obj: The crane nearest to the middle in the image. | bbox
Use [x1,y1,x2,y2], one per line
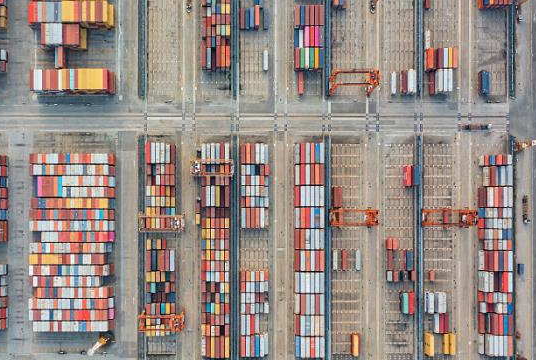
[189,158,235,181]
